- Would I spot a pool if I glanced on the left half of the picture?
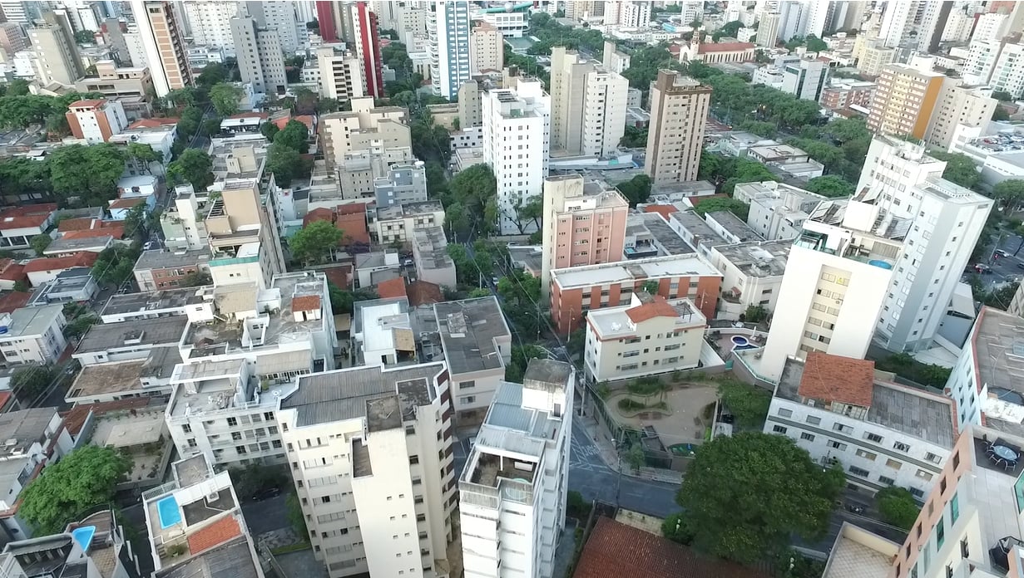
Yes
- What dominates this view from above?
buildings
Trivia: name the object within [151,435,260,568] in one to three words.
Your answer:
house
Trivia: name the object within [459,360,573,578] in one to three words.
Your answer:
building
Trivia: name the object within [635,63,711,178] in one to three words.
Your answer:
building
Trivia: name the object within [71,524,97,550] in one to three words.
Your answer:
swimming pool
